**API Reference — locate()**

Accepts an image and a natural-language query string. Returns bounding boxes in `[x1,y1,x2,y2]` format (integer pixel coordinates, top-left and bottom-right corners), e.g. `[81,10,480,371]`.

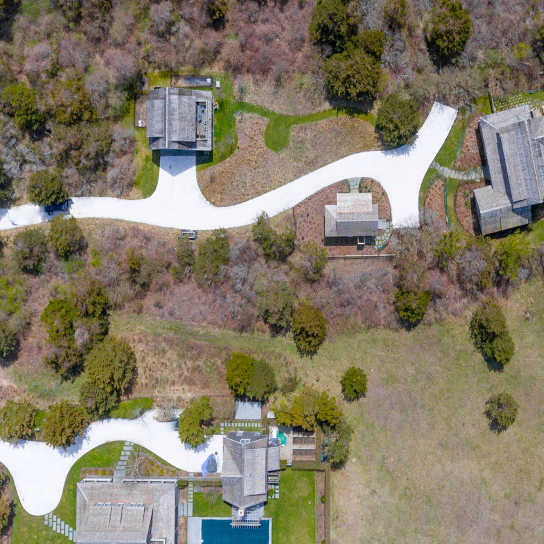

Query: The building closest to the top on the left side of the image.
[147,87,216,150]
